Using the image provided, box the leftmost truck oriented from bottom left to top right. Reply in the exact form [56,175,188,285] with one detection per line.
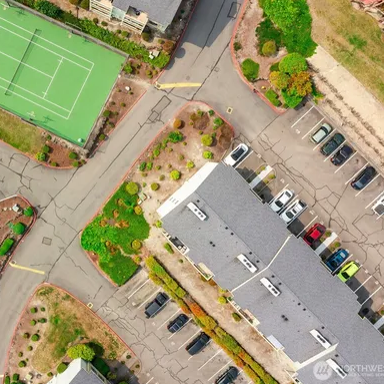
[142,290,171,318]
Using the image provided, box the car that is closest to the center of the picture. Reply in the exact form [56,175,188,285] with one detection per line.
[223,142,250,168]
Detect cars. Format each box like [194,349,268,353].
[329,144,355,168]
[309,122,332,144]
[213,363,239,384]
[165,311,189,334]
[319,132,346,156]
[223,142,250,168]
[349,165,376,189]
[280,198,307,223]
[324,245,350,270]
[185,330,211,355]
[301,221,327,245]
[336,259,361,281]
[268,188,294,213]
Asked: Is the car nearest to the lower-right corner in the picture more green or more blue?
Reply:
green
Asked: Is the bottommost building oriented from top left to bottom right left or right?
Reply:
right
